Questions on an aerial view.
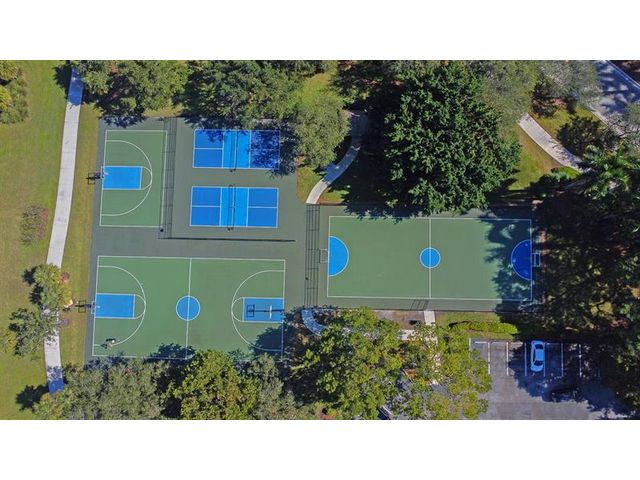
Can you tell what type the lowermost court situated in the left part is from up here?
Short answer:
basketball court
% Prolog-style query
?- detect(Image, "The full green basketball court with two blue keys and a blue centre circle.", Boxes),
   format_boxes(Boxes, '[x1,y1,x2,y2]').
[92,256,284,361]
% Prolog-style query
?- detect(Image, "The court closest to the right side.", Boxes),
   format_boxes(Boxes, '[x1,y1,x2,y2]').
[328,216,532,301]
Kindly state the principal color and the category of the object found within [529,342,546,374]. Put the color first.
blue car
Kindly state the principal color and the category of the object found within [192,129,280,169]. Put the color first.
blue sports court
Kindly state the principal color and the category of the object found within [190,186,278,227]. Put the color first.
blue sports court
